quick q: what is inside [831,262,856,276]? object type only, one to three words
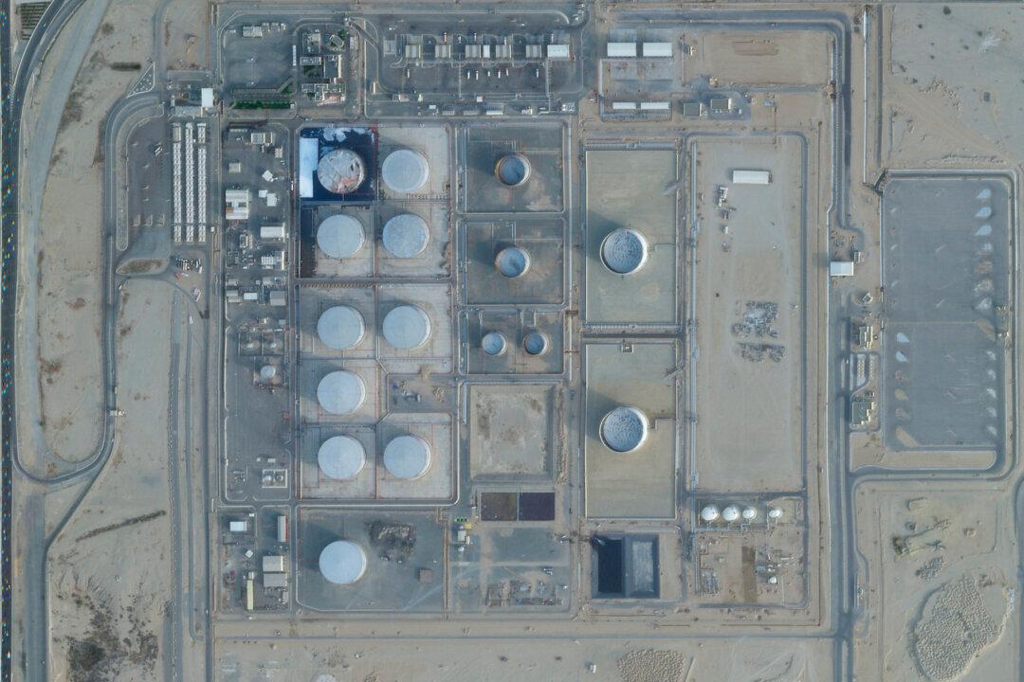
building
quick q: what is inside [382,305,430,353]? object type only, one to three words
storage tank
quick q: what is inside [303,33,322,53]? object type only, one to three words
building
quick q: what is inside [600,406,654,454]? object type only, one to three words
storage tank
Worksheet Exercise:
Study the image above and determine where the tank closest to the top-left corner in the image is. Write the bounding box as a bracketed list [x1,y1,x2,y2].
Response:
[316,146,366,195]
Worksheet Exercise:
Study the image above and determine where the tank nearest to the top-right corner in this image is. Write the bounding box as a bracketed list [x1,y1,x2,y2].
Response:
[600,228,654,275]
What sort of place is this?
industrial area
